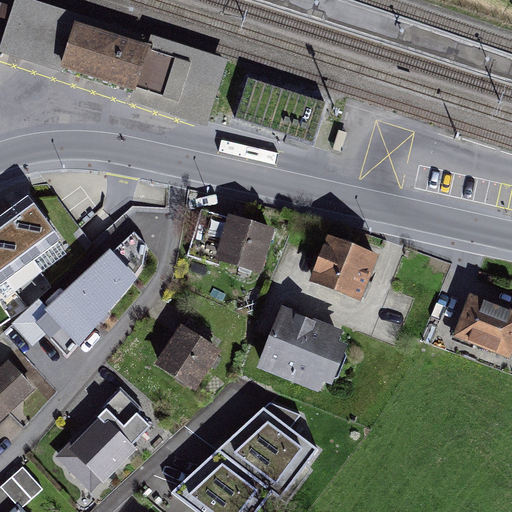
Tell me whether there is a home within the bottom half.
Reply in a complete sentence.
Yes, I can see a home within the bottom half.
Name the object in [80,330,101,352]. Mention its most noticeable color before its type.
white car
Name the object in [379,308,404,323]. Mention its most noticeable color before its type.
black car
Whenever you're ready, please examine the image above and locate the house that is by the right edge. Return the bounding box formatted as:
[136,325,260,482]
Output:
[452,292,512,360]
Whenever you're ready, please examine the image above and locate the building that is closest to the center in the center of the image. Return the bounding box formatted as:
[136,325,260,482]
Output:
[216,213,275,272]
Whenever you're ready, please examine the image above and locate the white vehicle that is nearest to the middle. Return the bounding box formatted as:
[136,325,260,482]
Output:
[192,194,219,208]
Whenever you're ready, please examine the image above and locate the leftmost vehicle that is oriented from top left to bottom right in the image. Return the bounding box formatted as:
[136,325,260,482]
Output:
[10,331,30,354]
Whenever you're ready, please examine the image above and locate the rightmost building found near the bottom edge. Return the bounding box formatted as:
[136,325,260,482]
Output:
[171,408,317,512]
